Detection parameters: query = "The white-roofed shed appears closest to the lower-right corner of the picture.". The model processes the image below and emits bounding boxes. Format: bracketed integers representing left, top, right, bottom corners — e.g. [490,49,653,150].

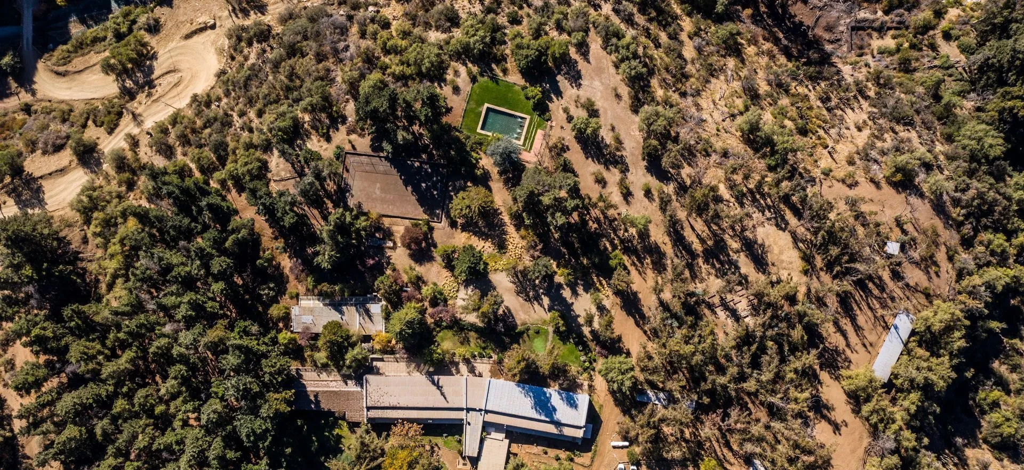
[867,312,914,382]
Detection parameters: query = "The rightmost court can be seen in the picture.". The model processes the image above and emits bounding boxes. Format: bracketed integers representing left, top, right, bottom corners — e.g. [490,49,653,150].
[344,154,446,221]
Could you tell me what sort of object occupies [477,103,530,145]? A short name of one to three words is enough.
swimming pool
